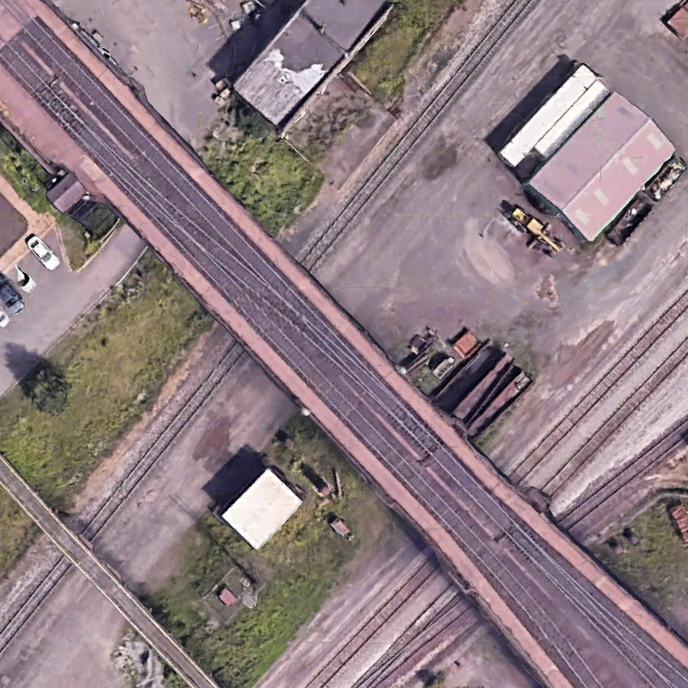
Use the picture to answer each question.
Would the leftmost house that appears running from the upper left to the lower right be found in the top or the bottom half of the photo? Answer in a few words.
top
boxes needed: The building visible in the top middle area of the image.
[234,0,394,141]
